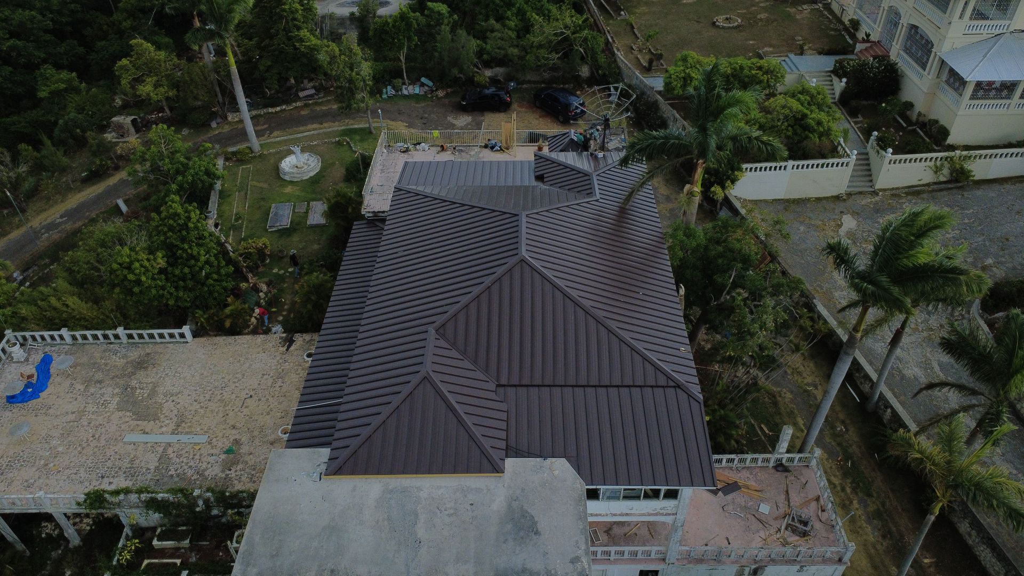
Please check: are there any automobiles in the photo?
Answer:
Yes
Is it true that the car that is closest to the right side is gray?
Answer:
No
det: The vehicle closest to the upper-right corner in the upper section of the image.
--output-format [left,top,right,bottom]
[534,86,588,123]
